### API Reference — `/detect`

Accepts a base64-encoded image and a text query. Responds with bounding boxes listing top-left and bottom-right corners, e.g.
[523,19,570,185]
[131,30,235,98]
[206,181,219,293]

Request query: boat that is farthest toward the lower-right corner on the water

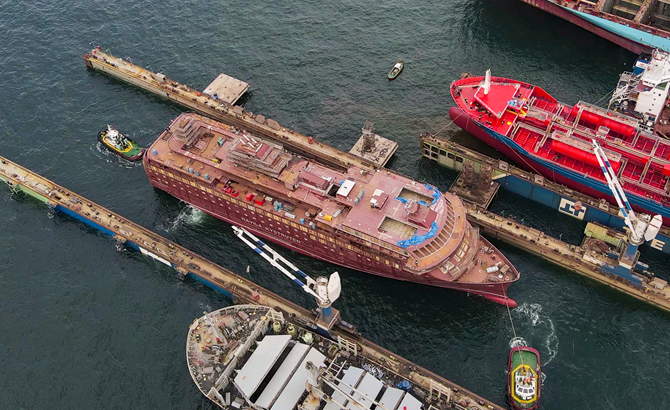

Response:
[506,341,542,410]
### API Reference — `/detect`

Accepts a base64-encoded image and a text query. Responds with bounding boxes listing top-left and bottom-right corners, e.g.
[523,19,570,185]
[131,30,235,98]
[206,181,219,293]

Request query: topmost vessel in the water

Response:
[521,0,670,63]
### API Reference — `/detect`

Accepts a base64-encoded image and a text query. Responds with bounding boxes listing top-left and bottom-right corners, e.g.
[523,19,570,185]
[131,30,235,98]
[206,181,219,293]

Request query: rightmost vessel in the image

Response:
[603,51,670,149]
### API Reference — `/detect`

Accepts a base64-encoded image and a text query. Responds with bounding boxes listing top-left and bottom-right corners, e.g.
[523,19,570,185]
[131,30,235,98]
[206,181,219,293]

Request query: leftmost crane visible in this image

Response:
[228,232,344,343]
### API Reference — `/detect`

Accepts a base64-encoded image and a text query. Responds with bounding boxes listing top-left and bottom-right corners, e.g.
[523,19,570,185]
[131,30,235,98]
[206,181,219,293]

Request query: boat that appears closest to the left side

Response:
[97,122,150,162]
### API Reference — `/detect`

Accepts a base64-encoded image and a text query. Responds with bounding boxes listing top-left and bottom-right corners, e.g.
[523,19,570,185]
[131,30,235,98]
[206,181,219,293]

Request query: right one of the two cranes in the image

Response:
[594,133,660,279]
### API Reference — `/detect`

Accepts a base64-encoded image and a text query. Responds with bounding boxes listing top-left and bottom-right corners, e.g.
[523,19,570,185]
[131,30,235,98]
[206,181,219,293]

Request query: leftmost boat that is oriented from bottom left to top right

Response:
[387,64,403,81]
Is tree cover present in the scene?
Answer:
No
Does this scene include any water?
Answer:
Yes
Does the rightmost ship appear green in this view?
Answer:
No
